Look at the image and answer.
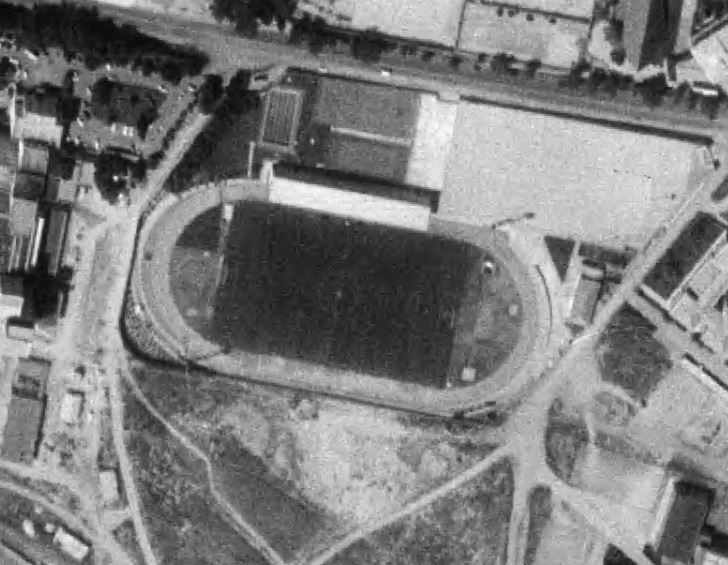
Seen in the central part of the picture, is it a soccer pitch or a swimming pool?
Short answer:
soccer pitch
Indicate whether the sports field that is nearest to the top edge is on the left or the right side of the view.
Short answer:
right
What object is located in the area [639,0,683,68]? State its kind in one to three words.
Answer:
building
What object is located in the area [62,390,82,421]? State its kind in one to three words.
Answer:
shed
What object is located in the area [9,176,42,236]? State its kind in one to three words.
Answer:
building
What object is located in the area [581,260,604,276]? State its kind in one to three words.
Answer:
house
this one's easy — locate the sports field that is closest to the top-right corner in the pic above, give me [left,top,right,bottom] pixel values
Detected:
[438,103,706,249]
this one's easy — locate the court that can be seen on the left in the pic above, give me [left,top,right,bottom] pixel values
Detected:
[261,88,303,150]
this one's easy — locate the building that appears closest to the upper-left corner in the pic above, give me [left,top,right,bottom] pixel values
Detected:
[14,91,68,148]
